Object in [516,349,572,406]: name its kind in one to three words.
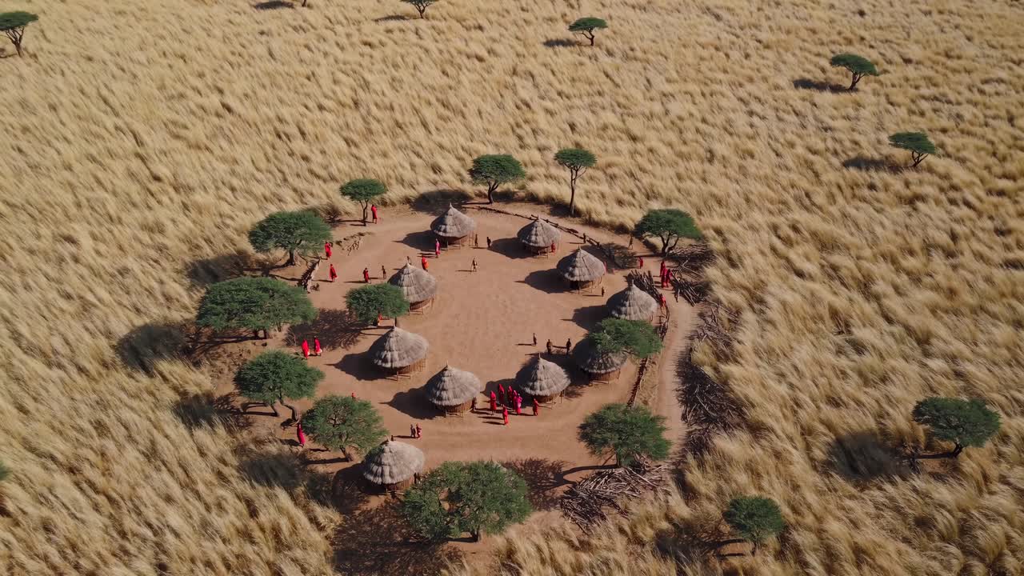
shed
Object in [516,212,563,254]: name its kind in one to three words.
shed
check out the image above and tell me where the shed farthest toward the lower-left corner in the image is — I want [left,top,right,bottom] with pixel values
[362,432,424,495]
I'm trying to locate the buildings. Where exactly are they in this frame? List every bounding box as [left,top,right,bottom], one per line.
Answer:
[574,338,629,383]
[558,245,607,290]
[367,323,430,378]
[516,212,563,254]
[516,349,572,406]
[390,258,437,311]
[607,276,659,323]
[430,203,476,246]
[362,432,424,495]
[425,362,483,414]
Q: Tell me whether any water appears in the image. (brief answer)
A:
No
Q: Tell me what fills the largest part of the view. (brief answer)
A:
grass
